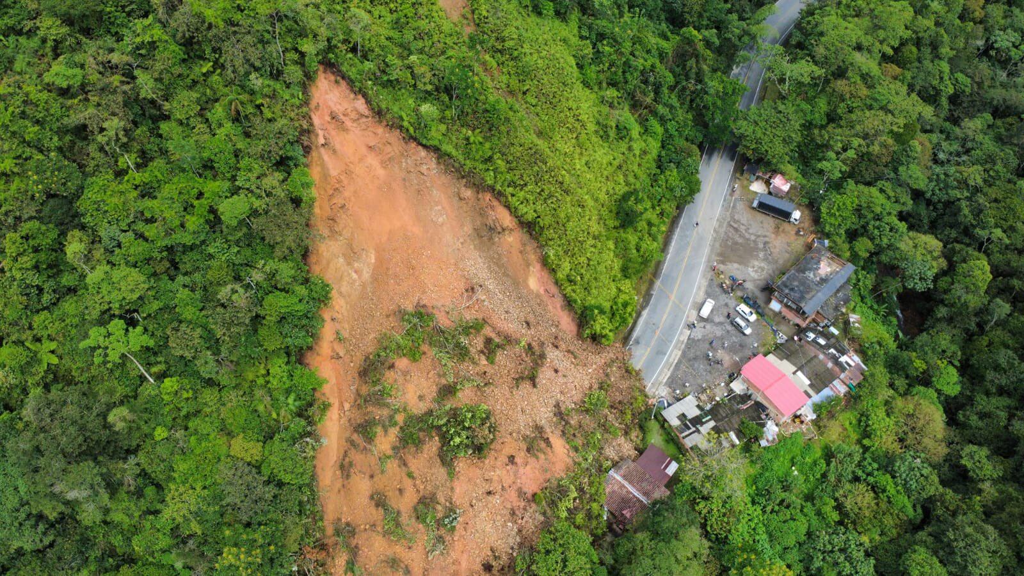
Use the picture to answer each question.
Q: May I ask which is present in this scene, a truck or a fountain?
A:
truck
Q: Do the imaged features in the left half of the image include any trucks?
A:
No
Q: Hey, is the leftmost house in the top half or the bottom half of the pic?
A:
bottom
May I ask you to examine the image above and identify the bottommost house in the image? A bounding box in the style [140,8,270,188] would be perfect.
[604,444,678,526]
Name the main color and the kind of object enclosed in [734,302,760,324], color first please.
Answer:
white car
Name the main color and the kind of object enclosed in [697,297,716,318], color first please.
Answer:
white vehicle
